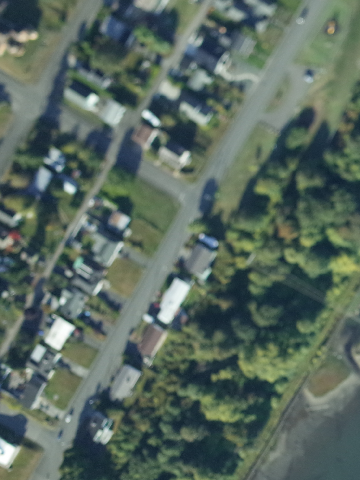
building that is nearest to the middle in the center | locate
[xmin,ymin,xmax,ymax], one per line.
[186,244,217,275]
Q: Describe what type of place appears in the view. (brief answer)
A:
residential area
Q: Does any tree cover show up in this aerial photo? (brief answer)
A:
Yes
